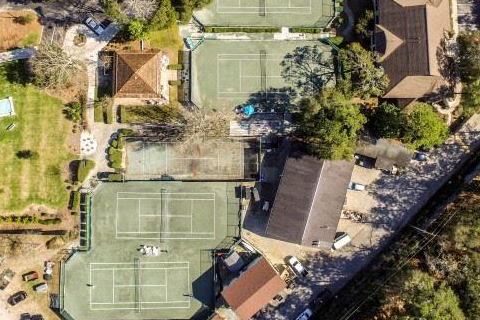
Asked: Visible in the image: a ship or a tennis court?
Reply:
tennis court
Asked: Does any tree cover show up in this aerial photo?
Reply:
Yes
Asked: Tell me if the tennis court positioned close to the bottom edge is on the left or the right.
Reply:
left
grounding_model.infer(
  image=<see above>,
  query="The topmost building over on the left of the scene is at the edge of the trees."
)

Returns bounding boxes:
[115,51,163,99]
